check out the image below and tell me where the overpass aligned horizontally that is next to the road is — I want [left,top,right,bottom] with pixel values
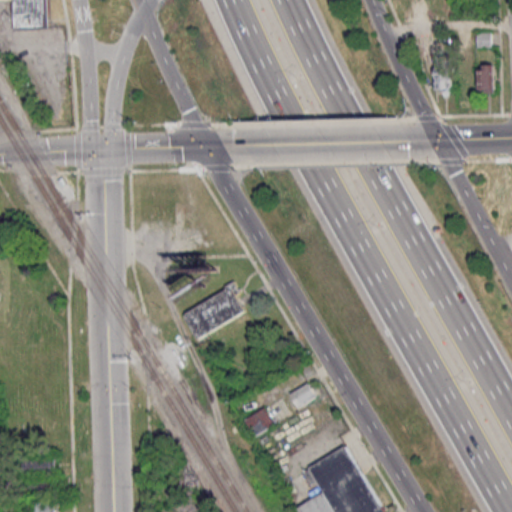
[204,116,442,168]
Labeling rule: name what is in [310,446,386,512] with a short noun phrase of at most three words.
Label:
building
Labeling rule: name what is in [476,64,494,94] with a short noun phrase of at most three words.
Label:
house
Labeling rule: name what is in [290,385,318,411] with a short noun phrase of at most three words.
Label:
shed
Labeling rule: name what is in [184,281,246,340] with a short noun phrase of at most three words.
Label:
building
